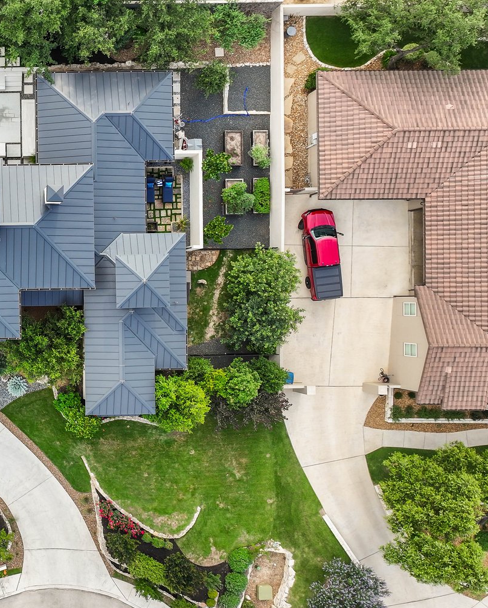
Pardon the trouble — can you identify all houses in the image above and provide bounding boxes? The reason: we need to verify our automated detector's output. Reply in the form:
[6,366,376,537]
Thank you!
[303,69,488,413]
[0,69,189,418]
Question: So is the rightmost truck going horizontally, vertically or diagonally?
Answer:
vertically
